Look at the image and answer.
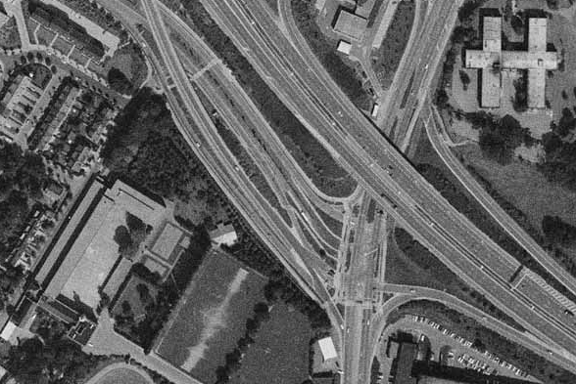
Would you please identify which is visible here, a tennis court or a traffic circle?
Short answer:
tennis court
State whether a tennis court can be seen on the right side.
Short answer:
No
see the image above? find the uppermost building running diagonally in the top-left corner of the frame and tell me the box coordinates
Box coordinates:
[32,5,101,57]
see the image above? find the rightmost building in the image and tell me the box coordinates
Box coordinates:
[466,18,556,107]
